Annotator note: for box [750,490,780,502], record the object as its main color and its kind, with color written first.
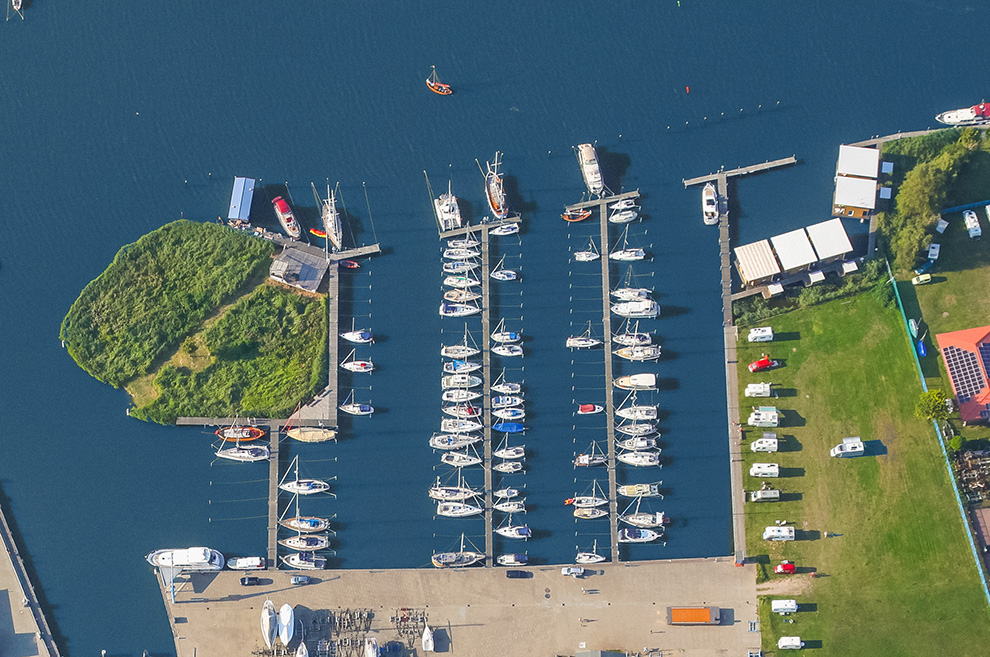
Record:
white vehicle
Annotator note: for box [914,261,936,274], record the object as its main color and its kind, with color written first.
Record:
blue vehicle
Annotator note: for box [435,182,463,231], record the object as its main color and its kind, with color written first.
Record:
white boat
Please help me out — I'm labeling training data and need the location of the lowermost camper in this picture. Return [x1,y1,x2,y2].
[777,639,805,651]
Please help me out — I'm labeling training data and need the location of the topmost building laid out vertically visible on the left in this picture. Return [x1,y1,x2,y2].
[226,177,257,224]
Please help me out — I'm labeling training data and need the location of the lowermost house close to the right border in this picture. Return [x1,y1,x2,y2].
[936,324,990,421]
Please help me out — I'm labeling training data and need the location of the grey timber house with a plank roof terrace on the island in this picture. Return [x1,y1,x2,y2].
[270,246,330,295]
